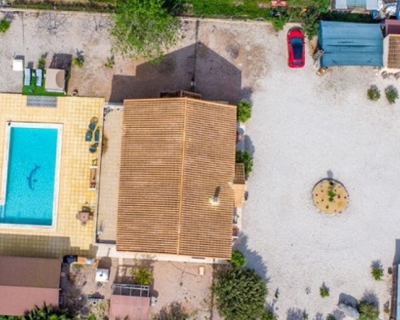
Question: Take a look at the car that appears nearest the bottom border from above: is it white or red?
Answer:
red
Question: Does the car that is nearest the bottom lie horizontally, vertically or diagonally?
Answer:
vertically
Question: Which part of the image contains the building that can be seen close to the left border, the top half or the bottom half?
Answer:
bottom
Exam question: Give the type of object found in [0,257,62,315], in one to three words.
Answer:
building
